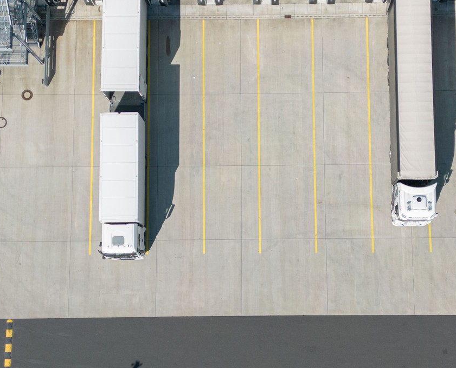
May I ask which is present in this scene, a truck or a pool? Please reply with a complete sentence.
Visible in the photo is a truck.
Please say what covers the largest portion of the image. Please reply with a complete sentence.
The scene is dominated by paved ground.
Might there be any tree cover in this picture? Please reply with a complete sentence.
No, tree cover can't be seen anywhere here.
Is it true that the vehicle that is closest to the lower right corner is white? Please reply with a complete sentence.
Yes, the vehicle that is closest to the lower right corner appears white.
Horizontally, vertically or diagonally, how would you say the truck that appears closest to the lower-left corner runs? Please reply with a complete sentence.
The truck that appears closest to the lower-left corner is laid out vertically.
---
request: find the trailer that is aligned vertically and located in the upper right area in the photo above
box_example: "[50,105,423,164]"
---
[385,0,438,188]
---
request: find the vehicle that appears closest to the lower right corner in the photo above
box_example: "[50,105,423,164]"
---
[389,163,439,226]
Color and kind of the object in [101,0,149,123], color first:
white trailer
